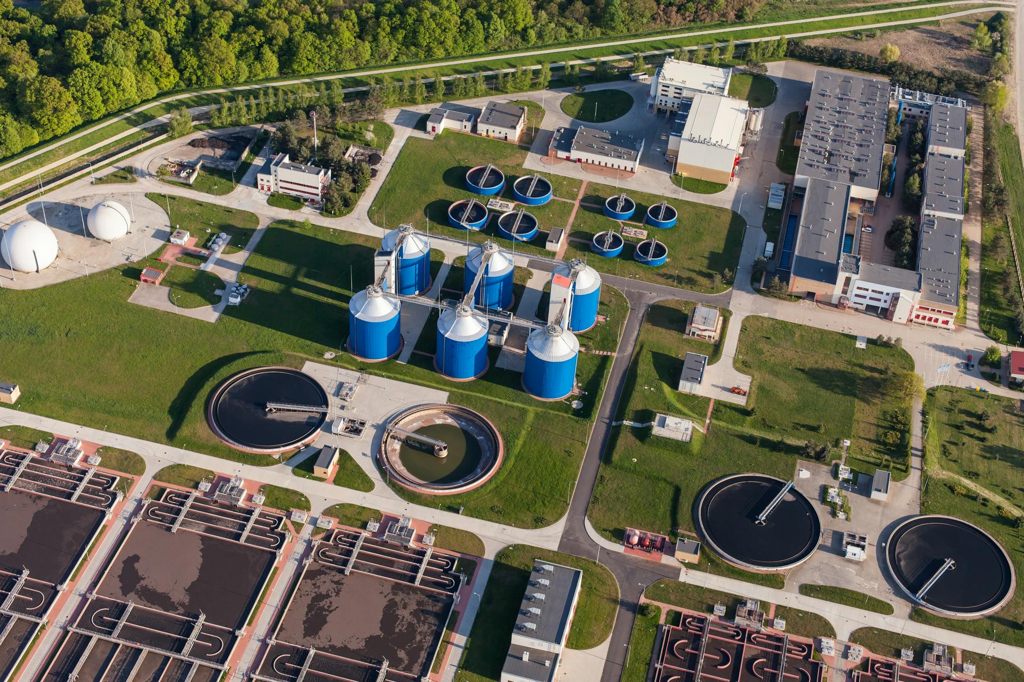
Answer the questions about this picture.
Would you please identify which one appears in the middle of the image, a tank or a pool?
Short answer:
tank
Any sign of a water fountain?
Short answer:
No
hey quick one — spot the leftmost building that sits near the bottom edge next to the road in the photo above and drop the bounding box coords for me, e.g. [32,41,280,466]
[501,559,583,682]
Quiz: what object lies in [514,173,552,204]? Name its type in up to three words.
storage tank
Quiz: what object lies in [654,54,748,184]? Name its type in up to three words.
building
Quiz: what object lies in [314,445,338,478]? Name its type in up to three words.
shed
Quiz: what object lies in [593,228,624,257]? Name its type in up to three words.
storage tank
